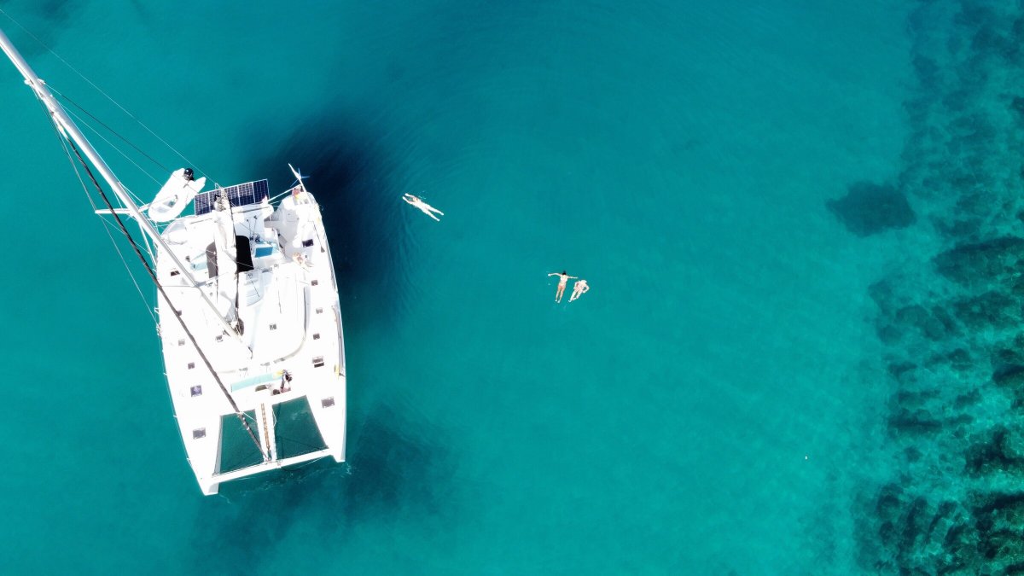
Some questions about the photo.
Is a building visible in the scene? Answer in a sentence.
No, I can see no building in this picture.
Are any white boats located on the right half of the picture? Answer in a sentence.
No, no white boat can be made out on the right half of the picture.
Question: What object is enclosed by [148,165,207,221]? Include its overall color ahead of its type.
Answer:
white boat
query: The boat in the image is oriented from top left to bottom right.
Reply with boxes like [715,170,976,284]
[0,3,346,498]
